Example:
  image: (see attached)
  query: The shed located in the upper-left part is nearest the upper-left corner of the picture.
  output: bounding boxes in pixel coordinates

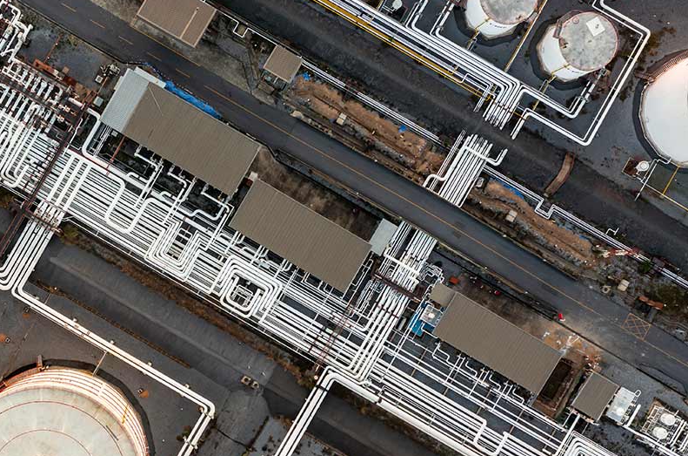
[137,0,217,52]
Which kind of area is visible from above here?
industrial area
